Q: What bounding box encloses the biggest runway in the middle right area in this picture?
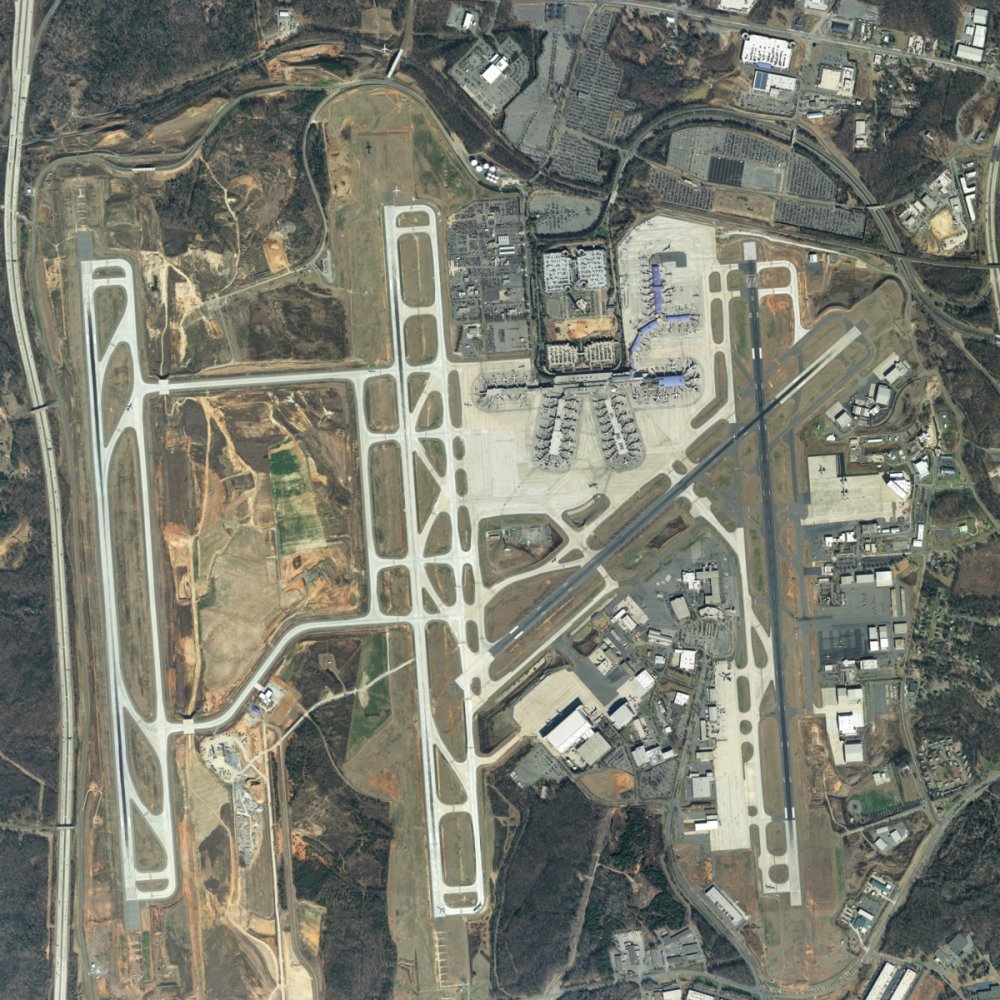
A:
[743,241,801,906]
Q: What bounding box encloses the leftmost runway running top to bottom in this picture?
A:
[77,232,141,929]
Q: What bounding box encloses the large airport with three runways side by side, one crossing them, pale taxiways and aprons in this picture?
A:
[77,202,909,929]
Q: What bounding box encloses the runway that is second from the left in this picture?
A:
[384,205,447,928]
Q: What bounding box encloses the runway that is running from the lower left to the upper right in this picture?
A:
[487,325,861,658]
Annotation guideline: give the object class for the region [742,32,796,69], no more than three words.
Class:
building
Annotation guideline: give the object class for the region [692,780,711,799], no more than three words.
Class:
building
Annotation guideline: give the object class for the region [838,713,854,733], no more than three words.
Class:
hangar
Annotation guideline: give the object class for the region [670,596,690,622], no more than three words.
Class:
hangar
